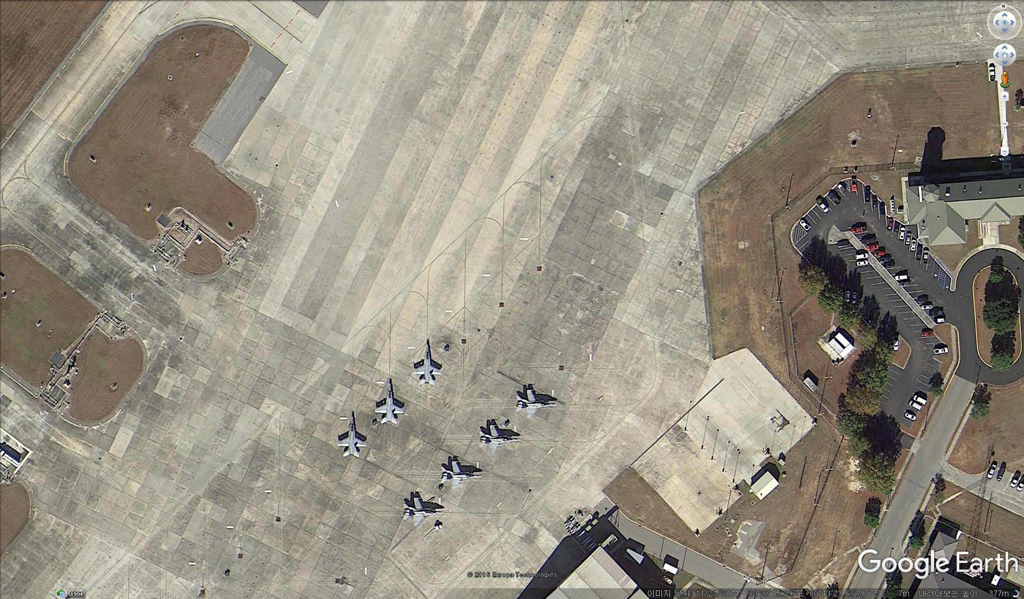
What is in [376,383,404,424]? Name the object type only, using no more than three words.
airplane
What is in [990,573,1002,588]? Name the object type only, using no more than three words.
vehicle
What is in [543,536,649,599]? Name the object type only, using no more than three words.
hangar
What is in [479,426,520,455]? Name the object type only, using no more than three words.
airplane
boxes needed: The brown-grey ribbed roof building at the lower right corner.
[918,532,1001,599]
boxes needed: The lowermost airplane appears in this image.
[404,499,443,527]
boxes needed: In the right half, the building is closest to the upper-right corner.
[904,155,1024,245]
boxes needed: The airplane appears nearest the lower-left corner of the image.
[338,417,366,457]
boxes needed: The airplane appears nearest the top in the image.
[413,344,441,384]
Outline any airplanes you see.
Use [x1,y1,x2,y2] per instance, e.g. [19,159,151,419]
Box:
[376,383,404,424]
[441,463,481,491]
[479,426,520,455]
[516,391,557,419]
[413,344,441,384]
[404,499,443,527]
[338,417,366,457]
